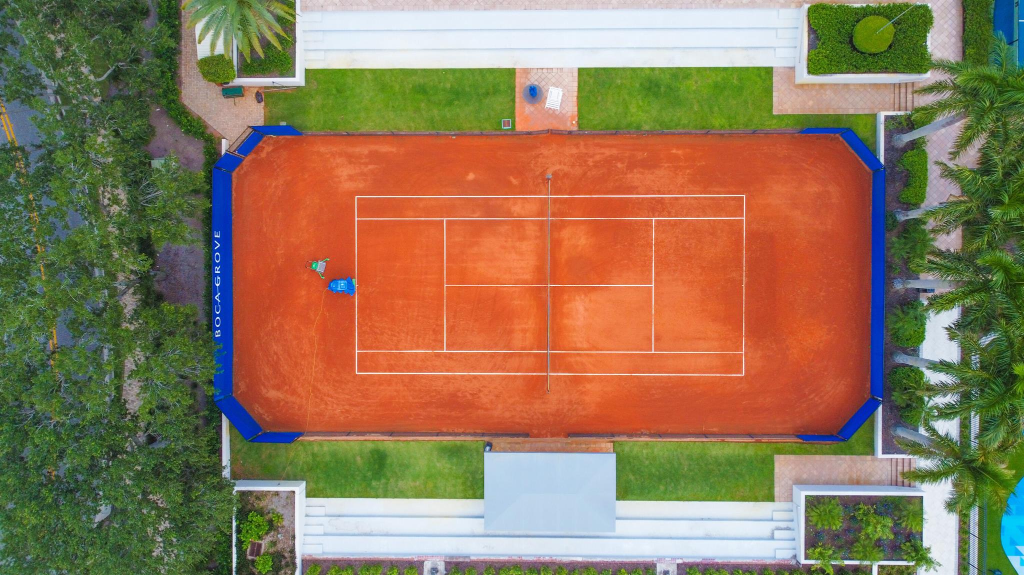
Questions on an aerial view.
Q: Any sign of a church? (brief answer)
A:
No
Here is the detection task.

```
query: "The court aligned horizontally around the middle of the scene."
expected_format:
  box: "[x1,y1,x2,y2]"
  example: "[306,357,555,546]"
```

[232,134,873,438]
